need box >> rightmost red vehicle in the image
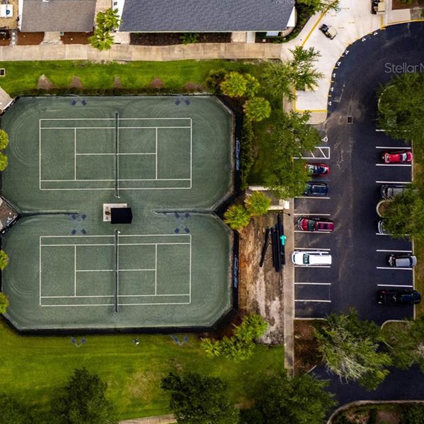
[384,151,416,165]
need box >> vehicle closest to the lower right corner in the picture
[382,292,423,308]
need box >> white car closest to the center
[295,252,335,268]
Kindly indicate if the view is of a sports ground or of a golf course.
sports ground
